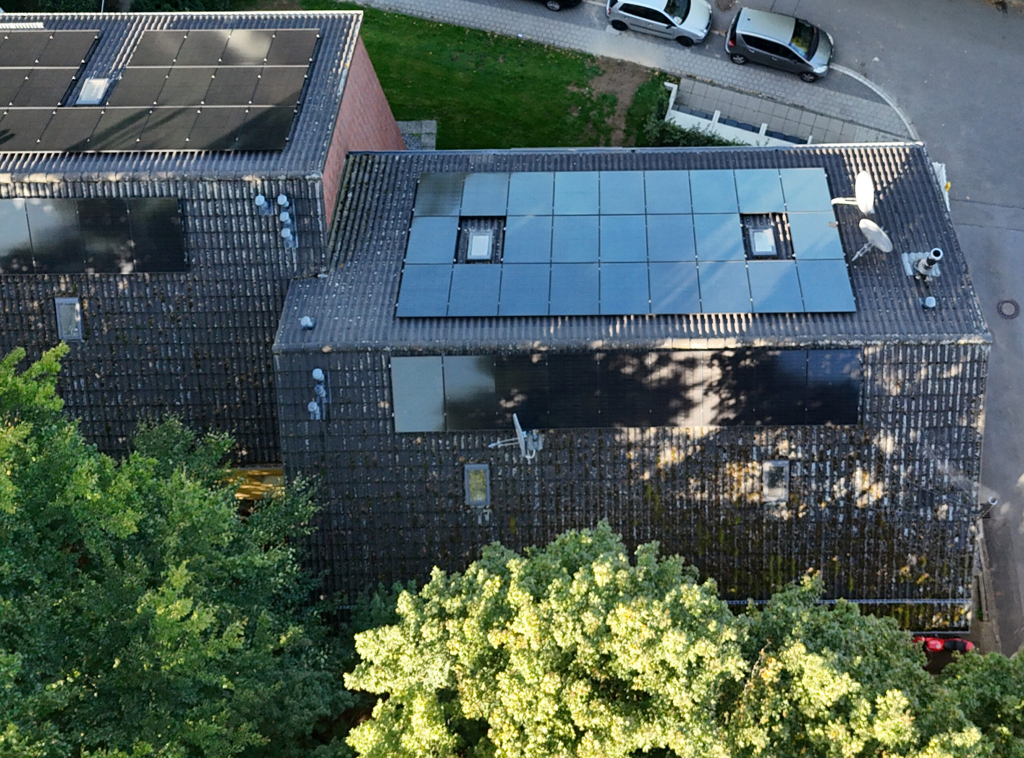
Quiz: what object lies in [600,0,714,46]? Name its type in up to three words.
car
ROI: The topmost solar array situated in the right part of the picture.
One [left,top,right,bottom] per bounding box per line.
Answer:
[395,167,855,317]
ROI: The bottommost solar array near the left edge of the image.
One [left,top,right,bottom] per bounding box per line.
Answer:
[0,198,188,276]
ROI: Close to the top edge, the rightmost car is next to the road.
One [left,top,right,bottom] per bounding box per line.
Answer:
[719,1,834,78]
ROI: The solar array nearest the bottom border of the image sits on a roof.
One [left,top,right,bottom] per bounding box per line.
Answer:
[390,350,862,432]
